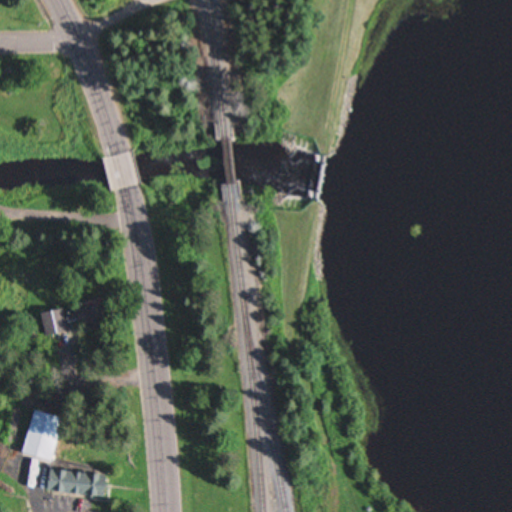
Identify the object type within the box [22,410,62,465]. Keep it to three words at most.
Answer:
barn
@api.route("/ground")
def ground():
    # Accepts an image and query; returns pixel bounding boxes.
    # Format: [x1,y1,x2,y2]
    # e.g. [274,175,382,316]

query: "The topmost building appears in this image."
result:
[40,310,64,336]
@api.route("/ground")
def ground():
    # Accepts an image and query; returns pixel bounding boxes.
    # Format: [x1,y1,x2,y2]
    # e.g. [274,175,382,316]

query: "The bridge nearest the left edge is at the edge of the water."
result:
[103,151,138,191]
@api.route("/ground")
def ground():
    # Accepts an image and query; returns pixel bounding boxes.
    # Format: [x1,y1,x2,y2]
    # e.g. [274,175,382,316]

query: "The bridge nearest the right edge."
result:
[212,119,244,206]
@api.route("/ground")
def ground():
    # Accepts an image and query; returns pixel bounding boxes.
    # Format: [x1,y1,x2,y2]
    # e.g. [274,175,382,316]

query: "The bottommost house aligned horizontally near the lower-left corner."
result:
[46,467,110,498]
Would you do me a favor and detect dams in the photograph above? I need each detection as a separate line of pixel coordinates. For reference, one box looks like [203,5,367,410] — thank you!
[290,144,326,206]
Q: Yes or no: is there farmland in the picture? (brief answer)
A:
No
